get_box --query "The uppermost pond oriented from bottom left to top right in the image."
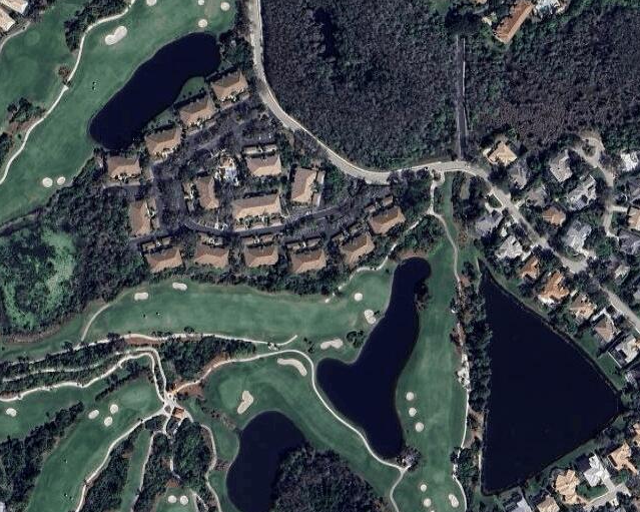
[90,32,221,149]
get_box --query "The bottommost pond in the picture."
[227,411,307,512]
